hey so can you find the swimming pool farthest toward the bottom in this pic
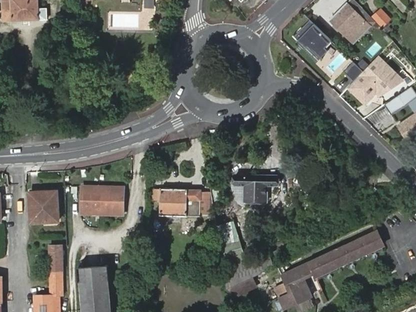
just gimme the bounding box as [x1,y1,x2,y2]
[326,55,345,74]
